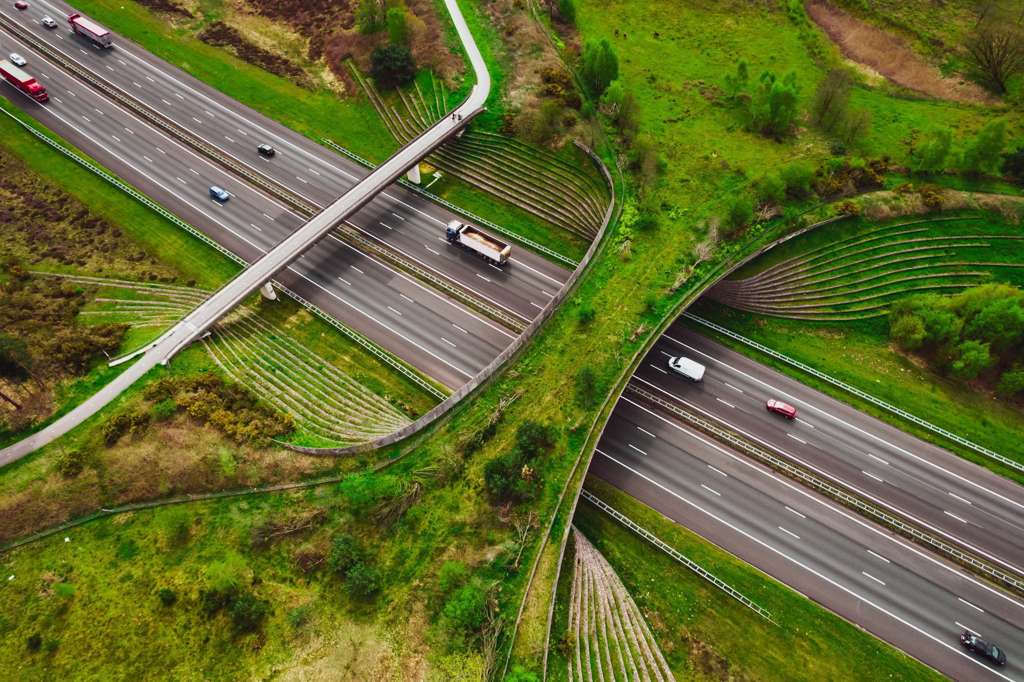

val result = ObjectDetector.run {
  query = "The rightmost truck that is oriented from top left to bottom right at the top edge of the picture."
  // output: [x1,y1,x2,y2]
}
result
[68,15,115,48]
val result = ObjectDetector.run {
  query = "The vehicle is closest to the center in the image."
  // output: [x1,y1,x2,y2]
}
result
[445,220,510,264]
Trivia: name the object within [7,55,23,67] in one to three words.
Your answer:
vehicle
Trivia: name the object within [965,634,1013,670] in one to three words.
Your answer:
car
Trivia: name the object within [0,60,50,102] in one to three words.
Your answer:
truck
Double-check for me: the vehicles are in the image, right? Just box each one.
[15,1,28,10]
[0,60,50,102]
[68,15,115,48]
[767,402,797,422]
[7,55,23,67]
[672,360,710,384]
[209,187,230,203]
[965,634,1013,670]
[445,220,510,264]
[41,18,56,27]
[257,145,275,157]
